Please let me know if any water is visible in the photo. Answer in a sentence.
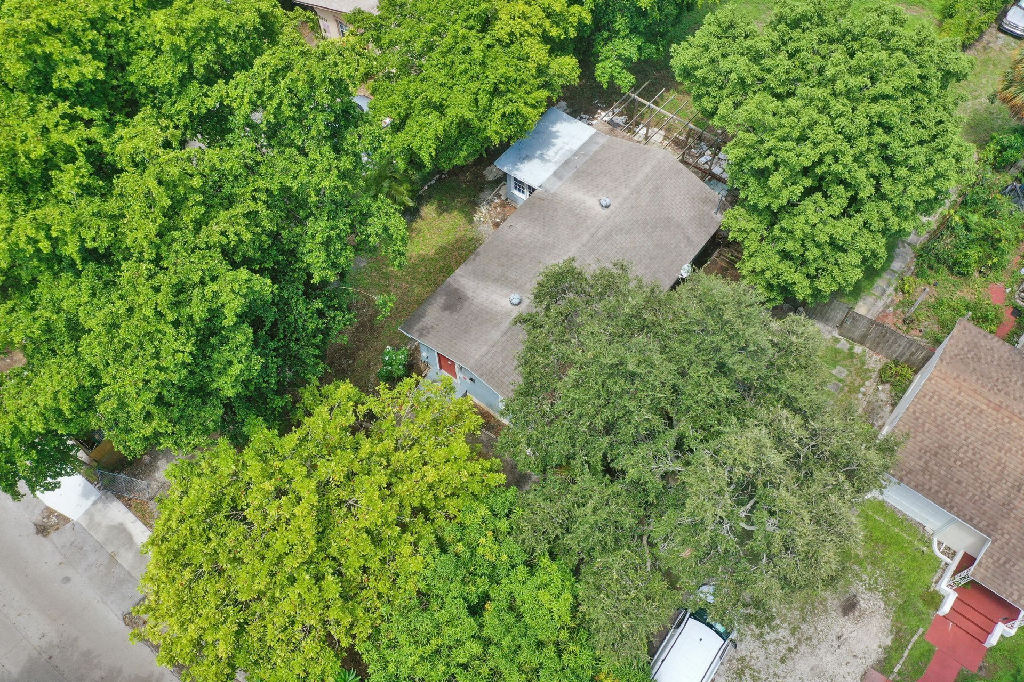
No, there's no water in this view.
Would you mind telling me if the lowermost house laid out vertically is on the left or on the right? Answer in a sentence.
The lowermost house laid out vertically sits on the right side.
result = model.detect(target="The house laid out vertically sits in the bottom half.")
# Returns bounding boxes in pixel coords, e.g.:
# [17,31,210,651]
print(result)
[867,318,1024,651]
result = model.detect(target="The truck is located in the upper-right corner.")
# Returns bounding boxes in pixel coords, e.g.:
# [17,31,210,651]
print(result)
[1003,3,1024,41]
